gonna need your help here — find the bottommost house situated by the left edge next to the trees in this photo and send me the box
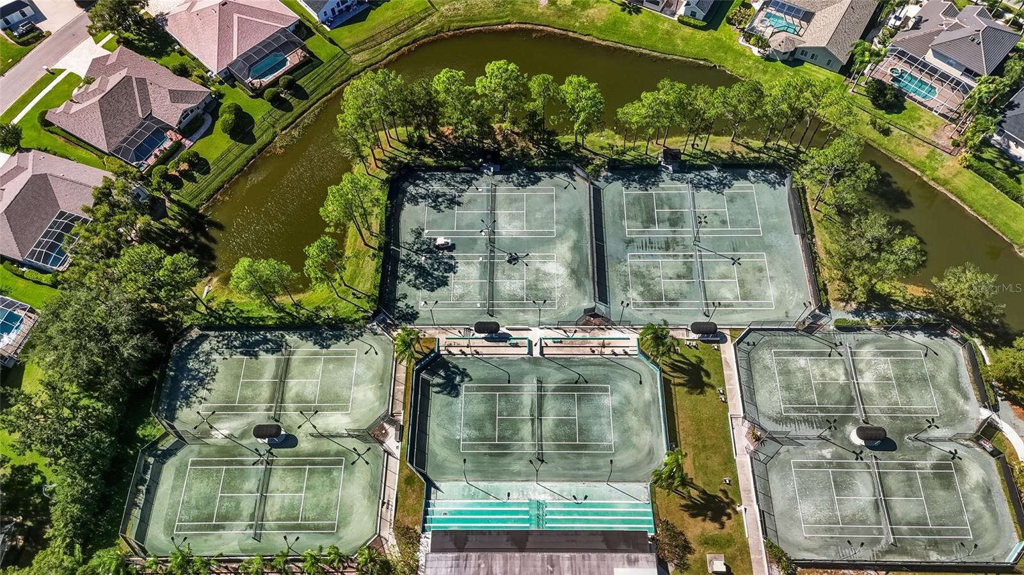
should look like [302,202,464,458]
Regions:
[0,150,115,262]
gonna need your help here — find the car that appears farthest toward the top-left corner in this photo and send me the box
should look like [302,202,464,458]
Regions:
[13,21,35,34]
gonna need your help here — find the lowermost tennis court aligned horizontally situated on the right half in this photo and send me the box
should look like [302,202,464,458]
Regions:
[749,432,1023,560]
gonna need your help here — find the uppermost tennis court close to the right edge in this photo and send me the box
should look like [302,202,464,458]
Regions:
[736,330,979,432]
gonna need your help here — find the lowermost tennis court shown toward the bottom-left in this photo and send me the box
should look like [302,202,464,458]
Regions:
[131,432,383,556]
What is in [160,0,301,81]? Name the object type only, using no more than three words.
house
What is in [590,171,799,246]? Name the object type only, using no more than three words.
tennis court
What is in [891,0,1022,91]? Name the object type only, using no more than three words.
house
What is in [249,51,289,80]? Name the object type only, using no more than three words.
swimming pool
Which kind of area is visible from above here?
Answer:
sports ground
